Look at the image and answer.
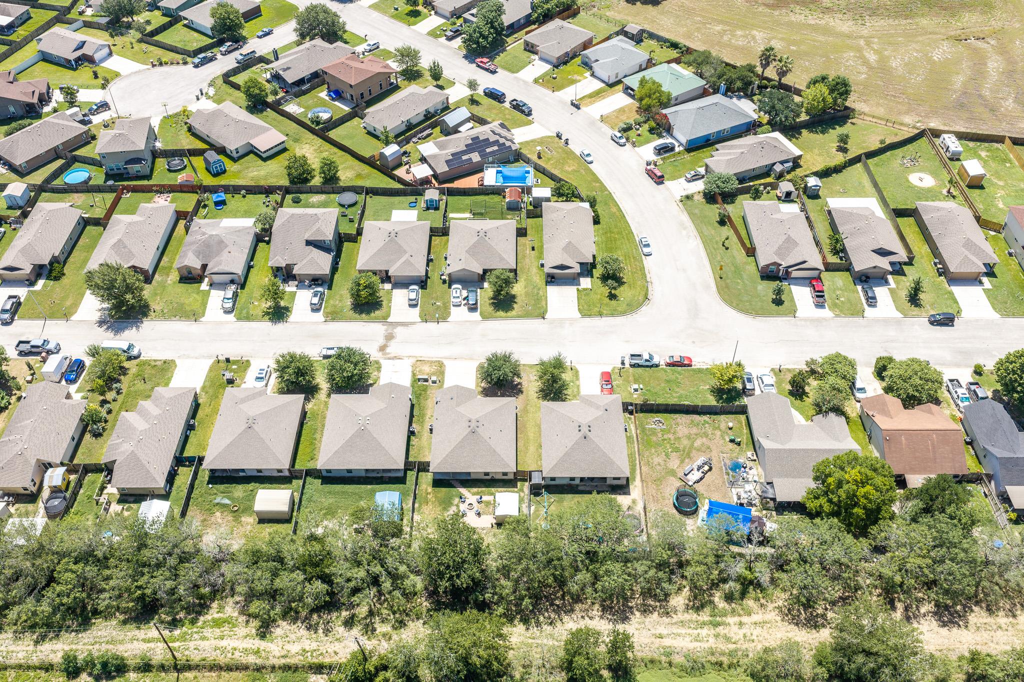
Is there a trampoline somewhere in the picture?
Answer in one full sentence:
Yes, I can see a trampoline in this picture.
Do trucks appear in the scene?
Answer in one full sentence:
Yes, there's a truck here.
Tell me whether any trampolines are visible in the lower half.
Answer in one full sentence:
Yes, you'll find a trampoline in the lower half.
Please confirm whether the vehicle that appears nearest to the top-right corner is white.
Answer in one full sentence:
Yes, white is the color of the vehicle that appears nearest to the top-right corner.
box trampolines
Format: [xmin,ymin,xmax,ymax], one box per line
[336,195,357,210]
[165,155,184,172]
[673,485,702,516]
[35,494,66,524]
[623,506,648,529]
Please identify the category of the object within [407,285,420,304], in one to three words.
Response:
vehicle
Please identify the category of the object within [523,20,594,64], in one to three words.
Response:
house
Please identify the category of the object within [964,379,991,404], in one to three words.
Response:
truck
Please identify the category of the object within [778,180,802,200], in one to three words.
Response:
shed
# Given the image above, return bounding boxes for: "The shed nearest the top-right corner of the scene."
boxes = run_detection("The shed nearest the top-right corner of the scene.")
[963,165,990,186]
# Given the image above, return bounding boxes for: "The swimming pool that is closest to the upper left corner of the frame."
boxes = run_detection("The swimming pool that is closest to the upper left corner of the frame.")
[61,168,91,185]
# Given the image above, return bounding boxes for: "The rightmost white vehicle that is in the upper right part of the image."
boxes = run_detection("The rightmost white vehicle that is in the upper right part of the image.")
[941,125,966,160]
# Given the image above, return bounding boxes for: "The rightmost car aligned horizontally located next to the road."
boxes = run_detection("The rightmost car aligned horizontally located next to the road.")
[927,312,958,326]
